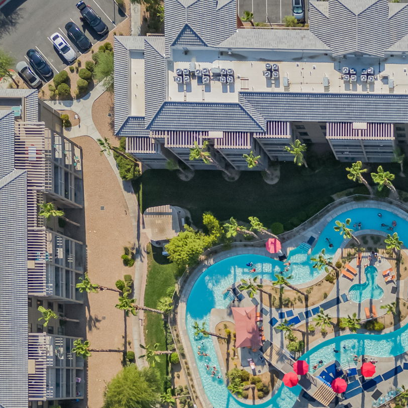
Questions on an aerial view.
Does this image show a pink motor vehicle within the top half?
No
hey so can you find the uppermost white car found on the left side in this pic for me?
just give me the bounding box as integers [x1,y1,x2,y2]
[52,33,76,61]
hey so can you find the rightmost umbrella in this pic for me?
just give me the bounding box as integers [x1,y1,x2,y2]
[361,362,377,377]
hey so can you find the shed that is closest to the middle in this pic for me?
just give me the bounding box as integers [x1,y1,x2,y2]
[144,206,181,239]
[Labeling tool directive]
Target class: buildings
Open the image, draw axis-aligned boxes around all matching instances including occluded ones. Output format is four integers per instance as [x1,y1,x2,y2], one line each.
[0,87,82,408]
[144,206,181,239]
[113,0,408,172]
